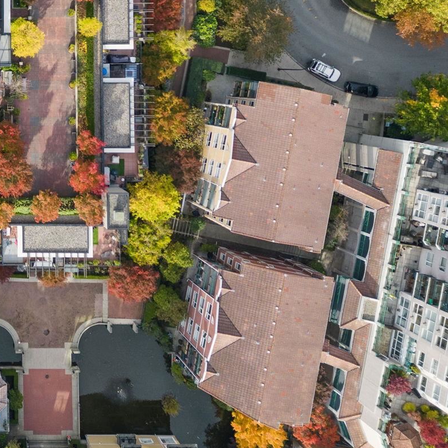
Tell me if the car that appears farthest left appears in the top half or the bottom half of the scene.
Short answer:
top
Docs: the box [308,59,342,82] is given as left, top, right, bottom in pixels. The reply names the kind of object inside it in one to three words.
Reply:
car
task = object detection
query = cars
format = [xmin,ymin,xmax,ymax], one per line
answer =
[308,59,342,82]
[345,82,379,98]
